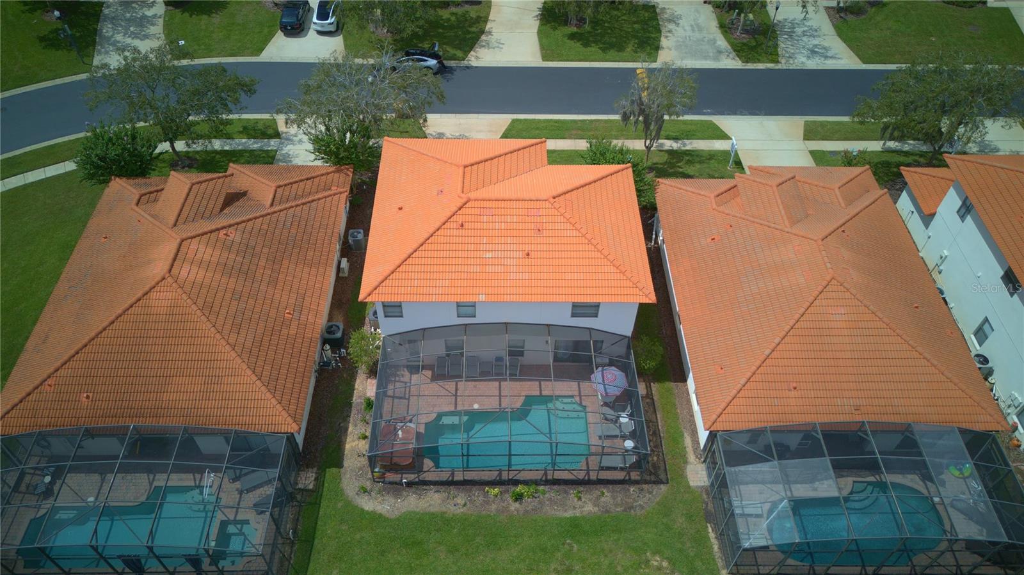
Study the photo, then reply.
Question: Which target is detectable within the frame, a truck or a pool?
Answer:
pool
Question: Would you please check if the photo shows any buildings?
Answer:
Yes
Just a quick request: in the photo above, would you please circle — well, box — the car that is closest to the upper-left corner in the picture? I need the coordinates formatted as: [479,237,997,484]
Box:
[276,0,312,27]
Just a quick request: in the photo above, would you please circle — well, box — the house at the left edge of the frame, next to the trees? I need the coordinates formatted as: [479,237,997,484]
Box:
[0,163,351,450]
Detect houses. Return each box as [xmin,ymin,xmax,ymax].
[358,136,657,365]
[0,163,351,450]
[653,165,1010,454]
